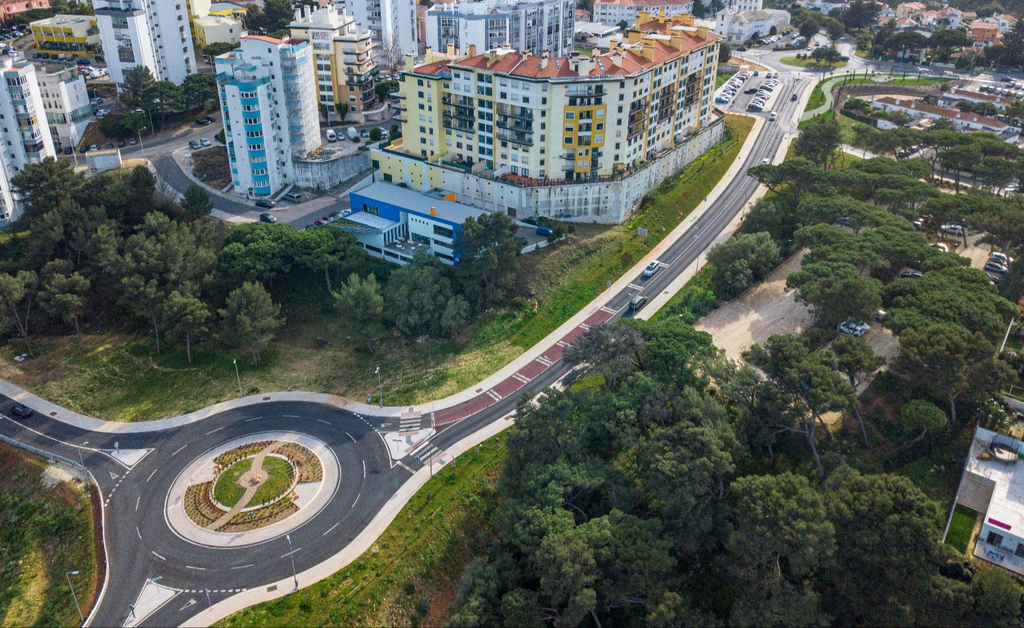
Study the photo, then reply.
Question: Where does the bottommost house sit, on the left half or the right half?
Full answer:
The bottommost house appears in the right half of the scene.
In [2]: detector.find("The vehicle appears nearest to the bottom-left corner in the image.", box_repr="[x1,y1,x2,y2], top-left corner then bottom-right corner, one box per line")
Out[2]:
[9,405,34,420]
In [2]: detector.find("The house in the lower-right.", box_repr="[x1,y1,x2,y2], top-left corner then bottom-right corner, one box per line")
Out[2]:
[952,440,1024,574]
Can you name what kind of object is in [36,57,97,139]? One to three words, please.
building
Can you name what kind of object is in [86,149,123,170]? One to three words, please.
building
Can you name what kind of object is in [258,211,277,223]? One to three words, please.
vehicle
